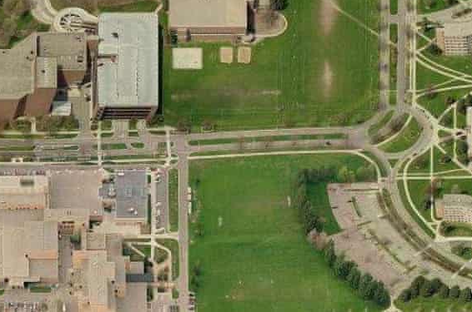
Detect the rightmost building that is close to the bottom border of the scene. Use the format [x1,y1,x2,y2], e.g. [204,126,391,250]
[73,233,155,312]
